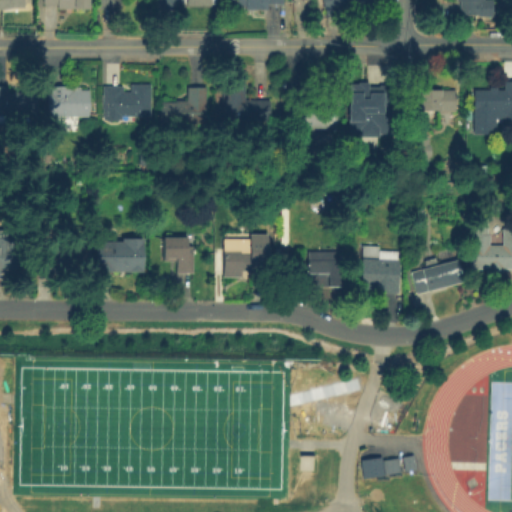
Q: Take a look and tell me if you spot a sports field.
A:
Yes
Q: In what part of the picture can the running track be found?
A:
bottom right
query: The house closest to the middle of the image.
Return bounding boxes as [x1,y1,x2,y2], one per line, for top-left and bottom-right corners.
[224,234,270,280]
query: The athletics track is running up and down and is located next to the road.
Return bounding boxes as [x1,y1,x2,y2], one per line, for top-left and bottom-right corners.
[424,344,512,512]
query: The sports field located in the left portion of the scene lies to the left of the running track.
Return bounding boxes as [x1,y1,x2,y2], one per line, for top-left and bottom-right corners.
[14,357,290,498]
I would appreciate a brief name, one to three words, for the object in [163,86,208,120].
house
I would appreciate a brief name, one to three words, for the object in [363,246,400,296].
house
